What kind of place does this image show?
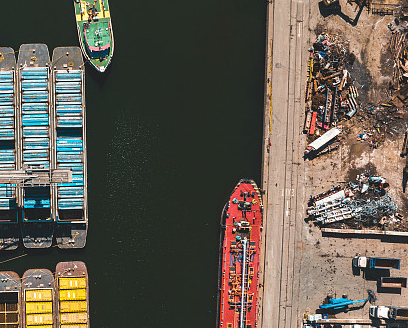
port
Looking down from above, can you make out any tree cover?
No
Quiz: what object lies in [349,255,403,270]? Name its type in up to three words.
vehicle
